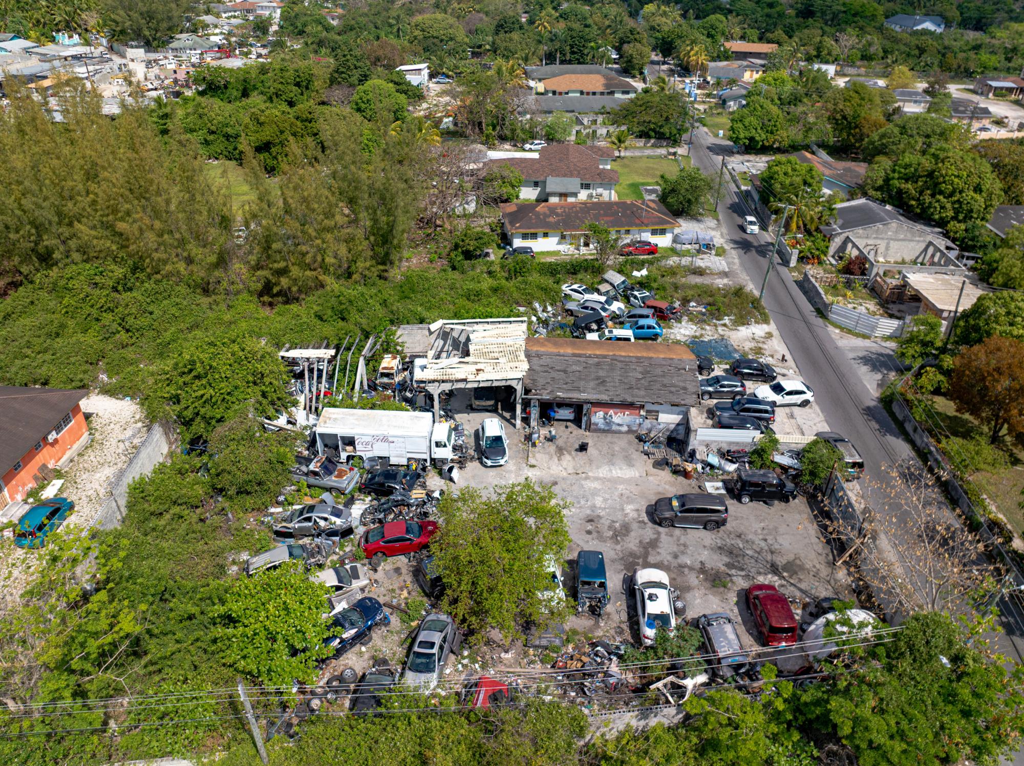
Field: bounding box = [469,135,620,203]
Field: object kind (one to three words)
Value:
house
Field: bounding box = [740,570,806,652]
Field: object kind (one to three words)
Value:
car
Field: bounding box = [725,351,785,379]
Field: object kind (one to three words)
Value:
car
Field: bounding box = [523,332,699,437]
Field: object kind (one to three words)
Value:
building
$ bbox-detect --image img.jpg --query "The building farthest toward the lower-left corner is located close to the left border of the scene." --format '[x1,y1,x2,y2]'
[0,379,105,568]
